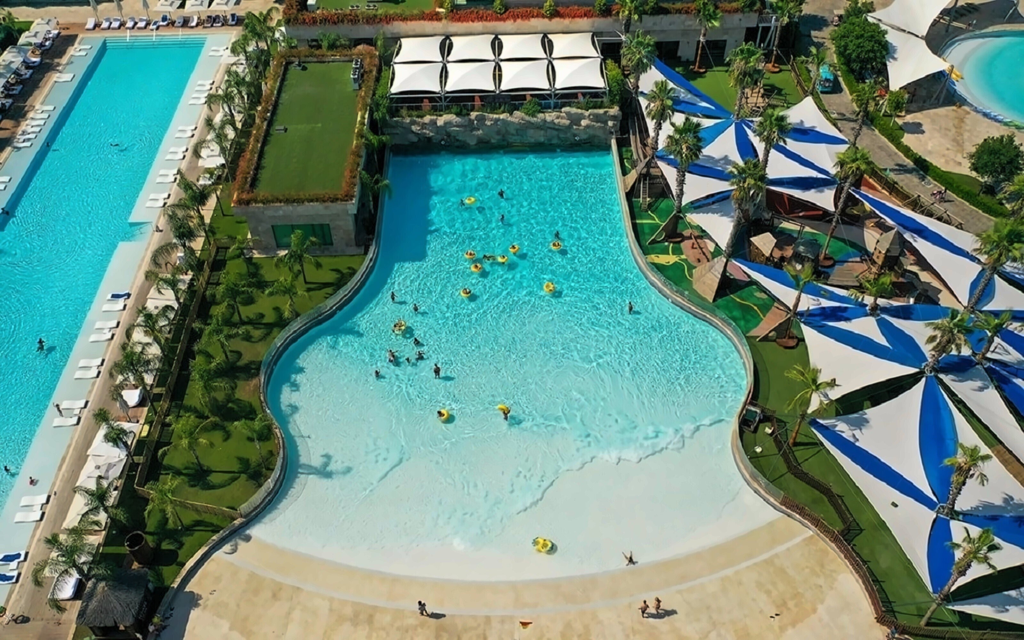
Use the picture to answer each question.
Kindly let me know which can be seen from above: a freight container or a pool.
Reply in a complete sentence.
I can see a pool in this picture.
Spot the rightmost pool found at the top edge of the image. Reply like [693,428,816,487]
[939,24,1024,132]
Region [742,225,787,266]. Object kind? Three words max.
shed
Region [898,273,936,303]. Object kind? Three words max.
shed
